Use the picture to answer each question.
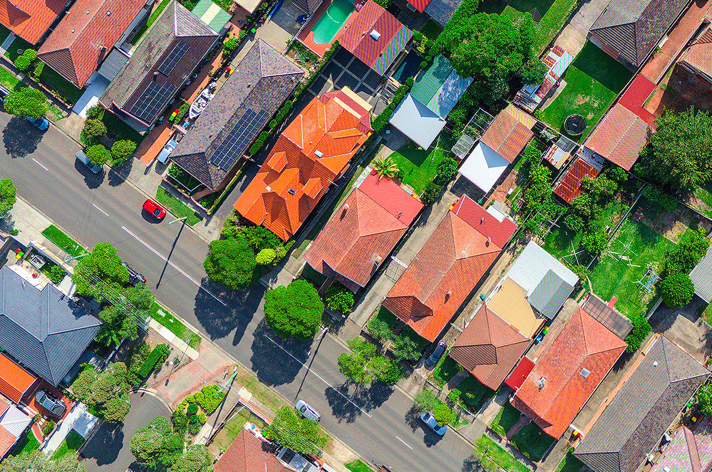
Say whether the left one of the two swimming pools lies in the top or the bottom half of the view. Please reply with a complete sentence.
The left one of the two swimming pools is in the top half of the image.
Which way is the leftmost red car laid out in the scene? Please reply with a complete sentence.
In this picture, the leftmost red car is oriented on a diagonal.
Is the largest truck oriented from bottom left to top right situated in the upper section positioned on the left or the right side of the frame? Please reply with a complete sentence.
The largest truck oriented from bottom left to top right situated in the upper section sits on the left side.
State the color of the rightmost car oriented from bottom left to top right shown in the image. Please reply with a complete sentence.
In this view, the rightmost car oriented from bottom left to top right is blue.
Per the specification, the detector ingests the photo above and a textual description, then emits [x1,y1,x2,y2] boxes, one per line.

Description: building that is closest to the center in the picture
[303,165,425,293]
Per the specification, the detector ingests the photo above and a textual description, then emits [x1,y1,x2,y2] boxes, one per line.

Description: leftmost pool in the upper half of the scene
[310,0,357,47]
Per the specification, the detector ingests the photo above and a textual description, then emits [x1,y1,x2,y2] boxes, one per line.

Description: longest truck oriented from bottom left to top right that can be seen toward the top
[151,134,183,170]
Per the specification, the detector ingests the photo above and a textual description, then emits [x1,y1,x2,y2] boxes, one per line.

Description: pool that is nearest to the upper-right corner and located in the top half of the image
[387,45,426,87]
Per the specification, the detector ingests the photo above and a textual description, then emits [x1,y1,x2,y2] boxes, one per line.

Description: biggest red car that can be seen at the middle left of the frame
[140,196,169,221]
